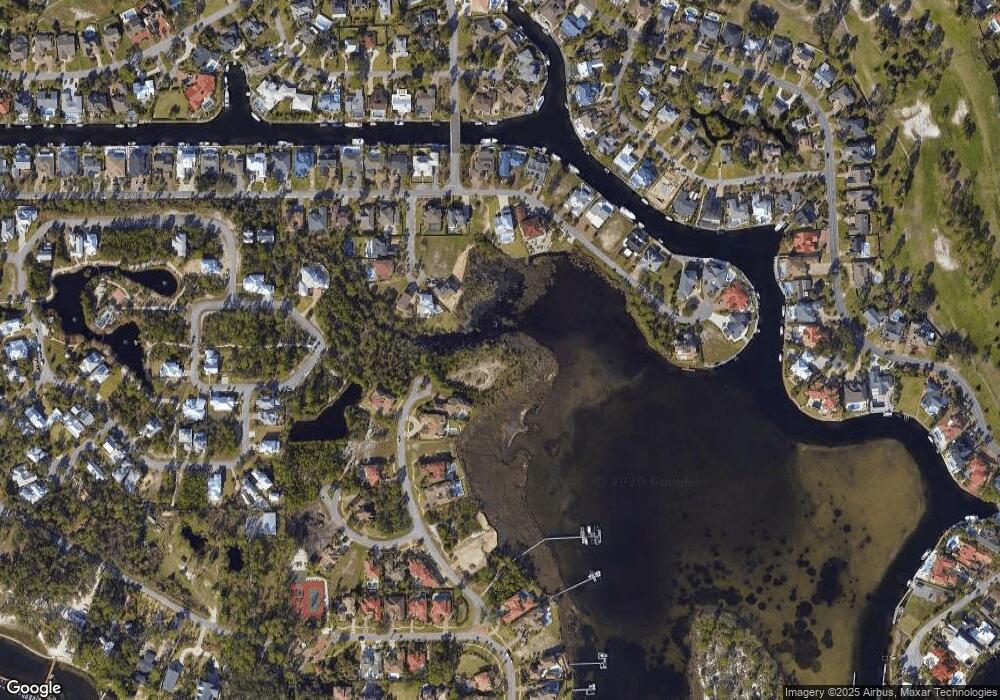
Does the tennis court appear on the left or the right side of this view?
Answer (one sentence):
The tennis court appears in the left half of the scene.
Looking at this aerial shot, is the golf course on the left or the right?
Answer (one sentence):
The golf course is on the right side of the image.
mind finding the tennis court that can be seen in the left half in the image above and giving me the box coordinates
[291,576,328,620]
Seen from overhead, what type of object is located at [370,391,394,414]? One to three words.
house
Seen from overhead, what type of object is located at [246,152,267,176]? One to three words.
house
